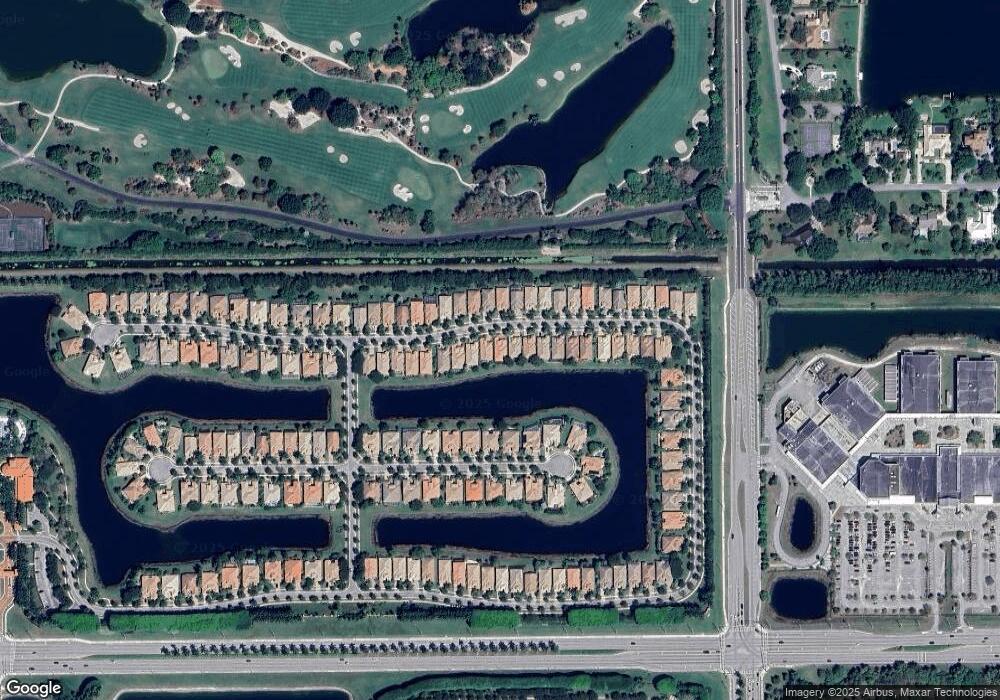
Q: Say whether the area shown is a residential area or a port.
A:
residential area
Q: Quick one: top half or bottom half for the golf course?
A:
top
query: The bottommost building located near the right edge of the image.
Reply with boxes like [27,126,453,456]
[860,447,1000,509]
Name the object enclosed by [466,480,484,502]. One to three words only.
house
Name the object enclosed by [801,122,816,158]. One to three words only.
tennis court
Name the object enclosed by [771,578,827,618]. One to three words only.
pond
